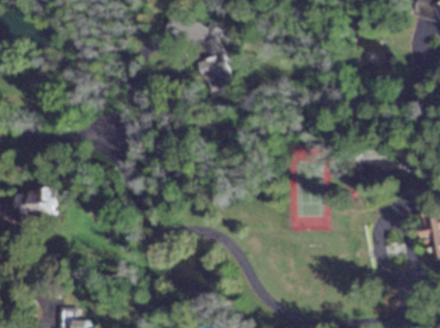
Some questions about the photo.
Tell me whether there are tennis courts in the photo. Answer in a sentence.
Yes, a tennis court appears in the view.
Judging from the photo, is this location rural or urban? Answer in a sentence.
The area shown here is rural.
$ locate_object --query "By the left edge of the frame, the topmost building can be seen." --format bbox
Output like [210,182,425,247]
[14,186,60,218]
